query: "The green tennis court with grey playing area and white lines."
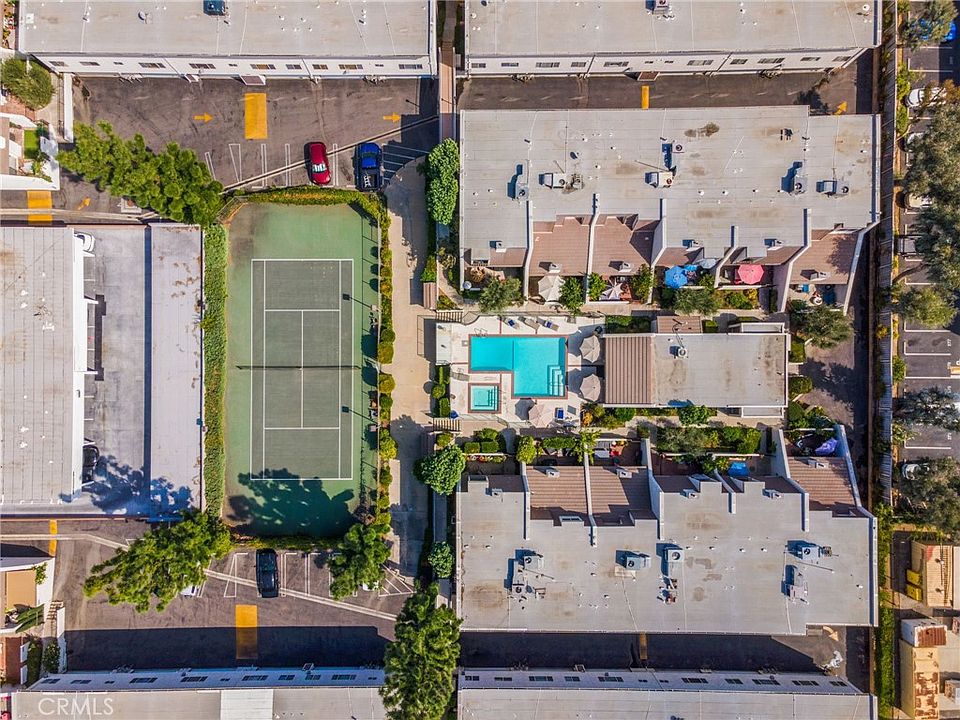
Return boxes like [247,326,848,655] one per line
[227,206,382,540]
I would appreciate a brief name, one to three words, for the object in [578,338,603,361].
umbrella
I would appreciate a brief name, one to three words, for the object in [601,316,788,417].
building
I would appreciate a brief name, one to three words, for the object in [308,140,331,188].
car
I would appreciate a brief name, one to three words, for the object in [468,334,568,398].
swimming pool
